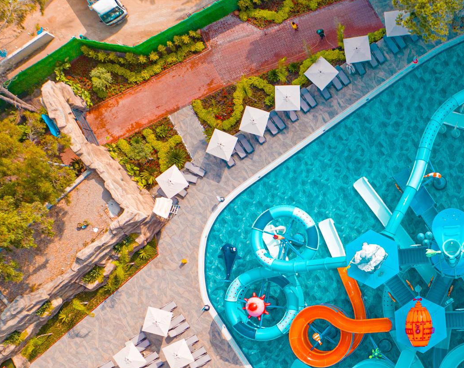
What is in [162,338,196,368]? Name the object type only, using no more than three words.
umbrella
